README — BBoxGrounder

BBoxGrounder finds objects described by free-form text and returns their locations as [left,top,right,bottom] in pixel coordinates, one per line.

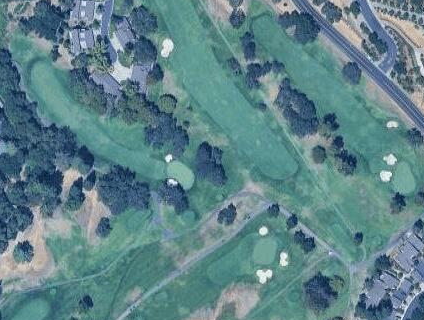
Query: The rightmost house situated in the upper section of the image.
[132,61,153,96]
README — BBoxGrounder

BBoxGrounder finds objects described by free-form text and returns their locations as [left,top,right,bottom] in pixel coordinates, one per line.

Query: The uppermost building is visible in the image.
[70,0,94,20]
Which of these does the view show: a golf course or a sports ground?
golf course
